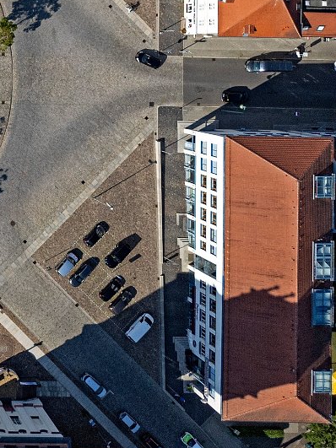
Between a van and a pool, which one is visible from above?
van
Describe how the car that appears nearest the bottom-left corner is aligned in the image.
at an angle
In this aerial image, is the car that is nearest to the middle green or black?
black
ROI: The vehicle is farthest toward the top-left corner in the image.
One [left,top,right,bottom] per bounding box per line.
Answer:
[134,49,165,67]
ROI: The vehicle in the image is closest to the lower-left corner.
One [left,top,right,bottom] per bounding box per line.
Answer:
[80,371,107,397]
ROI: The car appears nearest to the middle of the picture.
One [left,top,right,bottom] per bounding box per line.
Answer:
[103,239,134,268]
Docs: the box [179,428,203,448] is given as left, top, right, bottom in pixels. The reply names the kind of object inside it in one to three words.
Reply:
car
